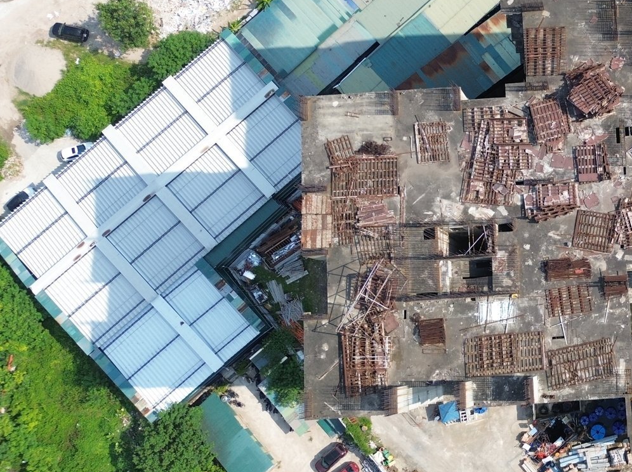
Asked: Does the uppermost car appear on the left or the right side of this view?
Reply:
left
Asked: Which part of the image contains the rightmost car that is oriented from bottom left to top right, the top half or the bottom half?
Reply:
bottom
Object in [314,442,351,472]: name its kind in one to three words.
car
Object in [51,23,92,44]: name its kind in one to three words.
car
